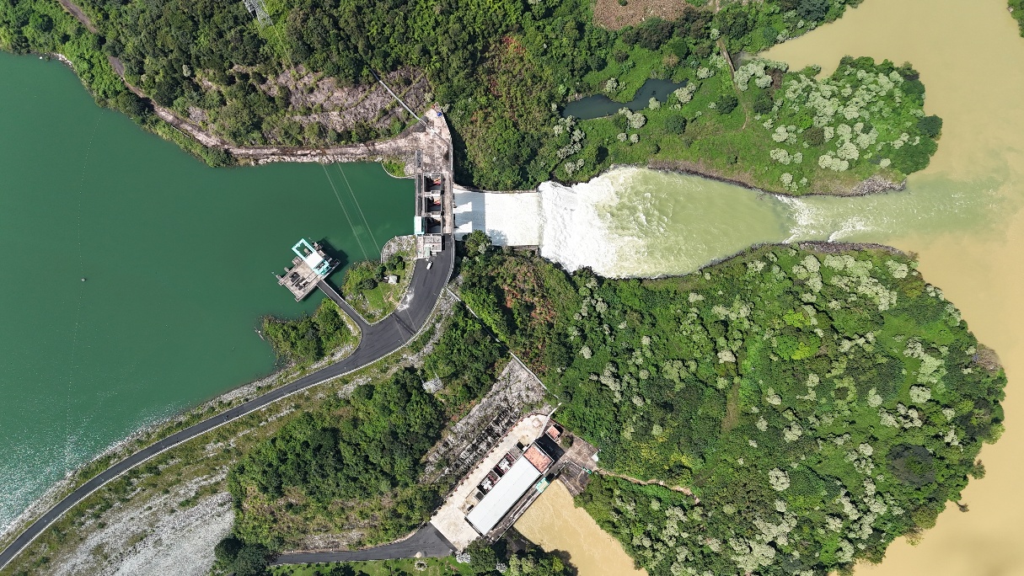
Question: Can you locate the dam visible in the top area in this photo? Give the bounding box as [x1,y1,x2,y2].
[415,169,541,250]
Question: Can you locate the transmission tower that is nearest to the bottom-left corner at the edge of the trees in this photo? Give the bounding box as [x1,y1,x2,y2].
[420,369,444,390]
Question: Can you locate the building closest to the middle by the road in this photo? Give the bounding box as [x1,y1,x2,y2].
[424,236,442,257]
